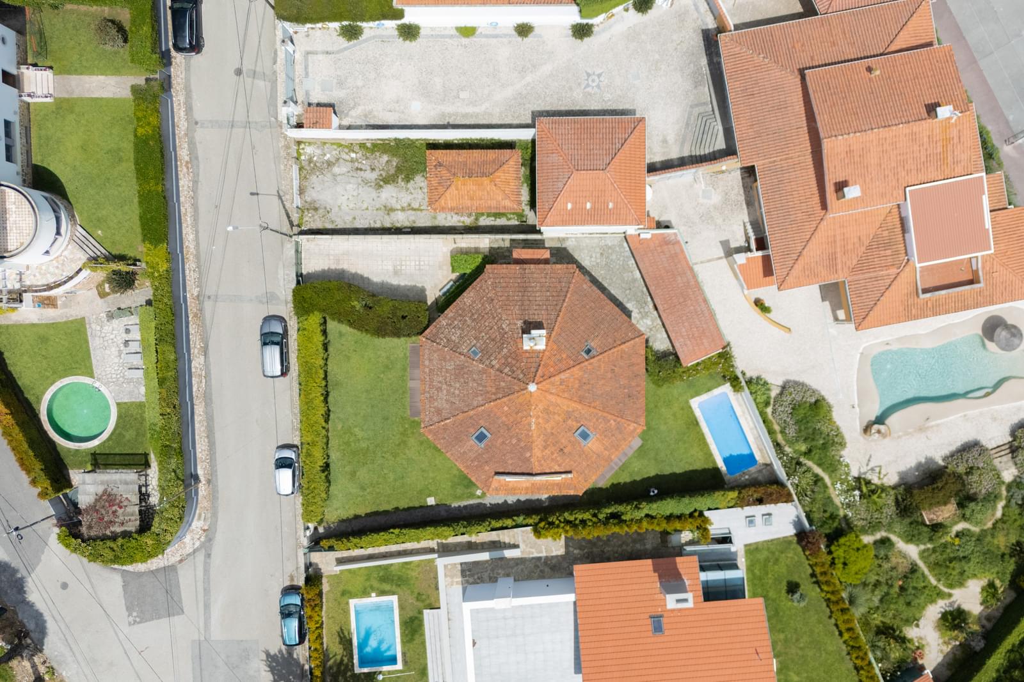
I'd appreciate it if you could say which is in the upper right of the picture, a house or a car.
house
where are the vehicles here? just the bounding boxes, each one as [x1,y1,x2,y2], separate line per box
[258,314,290,377]
[273,443,302,495]
[171,0,206,54]
[278,585,308,645]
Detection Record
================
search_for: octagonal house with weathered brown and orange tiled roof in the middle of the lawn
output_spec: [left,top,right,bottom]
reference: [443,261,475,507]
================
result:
[418,248,647,497]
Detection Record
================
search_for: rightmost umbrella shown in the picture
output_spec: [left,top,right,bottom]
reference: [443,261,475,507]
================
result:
[991,322,1021,352]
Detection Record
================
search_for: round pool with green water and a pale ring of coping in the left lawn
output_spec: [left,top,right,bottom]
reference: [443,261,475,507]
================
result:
[40,374,117,451]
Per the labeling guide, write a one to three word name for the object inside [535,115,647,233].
building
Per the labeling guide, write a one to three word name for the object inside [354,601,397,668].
swimming pool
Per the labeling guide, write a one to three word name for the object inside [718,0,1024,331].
house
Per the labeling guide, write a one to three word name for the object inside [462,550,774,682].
house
